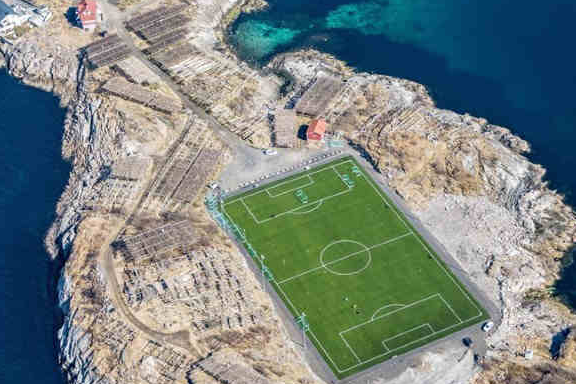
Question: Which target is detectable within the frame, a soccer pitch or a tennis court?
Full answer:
Of the two, only a soccer pitch appears.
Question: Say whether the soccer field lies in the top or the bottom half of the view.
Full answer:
It is in the bottom half that the soccer field appears.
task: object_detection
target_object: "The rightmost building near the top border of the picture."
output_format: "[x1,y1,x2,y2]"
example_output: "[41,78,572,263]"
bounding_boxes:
[77,0,100,34]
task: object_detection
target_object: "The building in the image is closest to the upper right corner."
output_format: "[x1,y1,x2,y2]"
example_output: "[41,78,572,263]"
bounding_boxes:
[306,113,324,142]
